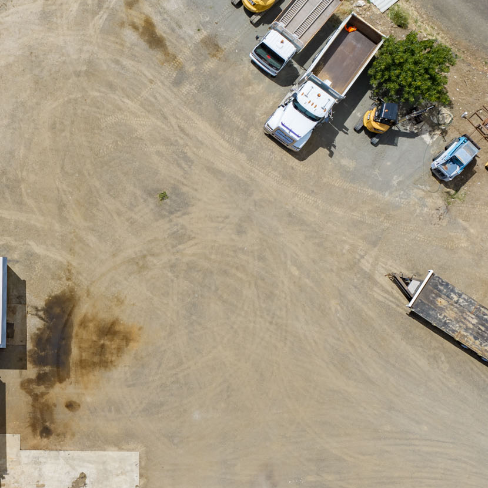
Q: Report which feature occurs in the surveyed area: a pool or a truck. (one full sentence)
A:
There is a truck in the scene.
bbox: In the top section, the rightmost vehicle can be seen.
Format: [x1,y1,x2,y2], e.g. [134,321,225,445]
[428,129,482,186]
